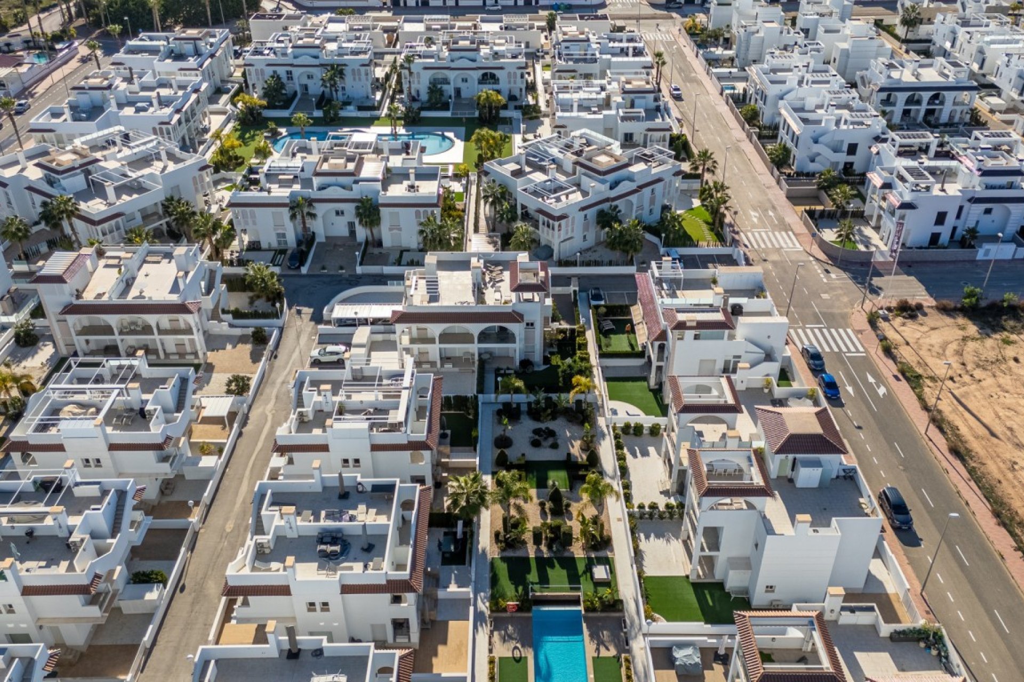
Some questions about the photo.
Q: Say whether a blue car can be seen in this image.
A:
Yes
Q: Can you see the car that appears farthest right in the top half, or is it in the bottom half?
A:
bottom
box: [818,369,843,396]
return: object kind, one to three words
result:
car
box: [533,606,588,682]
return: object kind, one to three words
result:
swimming pool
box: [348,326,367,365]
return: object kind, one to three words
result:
shed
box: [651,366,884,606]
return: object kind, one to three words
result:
house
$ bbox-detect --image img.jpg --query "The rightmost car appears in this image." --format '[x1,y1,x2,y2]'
[880,480,918,527]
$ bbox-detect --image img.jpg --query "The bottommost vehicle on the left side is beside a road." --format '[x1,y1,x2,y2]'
[309,344,349,365]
